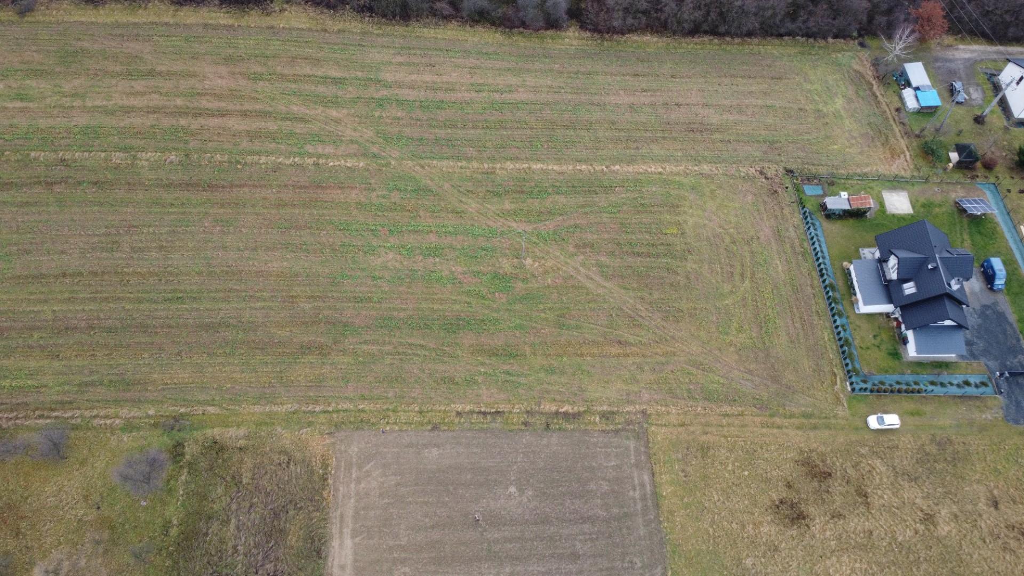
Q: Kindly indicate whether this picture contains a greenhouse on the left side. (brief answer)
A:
No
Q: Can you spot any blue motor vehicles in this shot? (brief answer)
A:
Yes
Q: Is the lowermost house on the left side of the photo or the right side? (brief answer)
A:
right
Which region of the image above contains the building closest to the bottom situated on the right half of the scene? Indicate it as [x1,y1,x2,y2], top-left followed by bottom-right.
[850,220,976,356]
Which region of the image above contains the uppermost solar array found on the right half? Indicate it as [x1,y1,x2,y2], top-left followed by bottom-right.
[956,198,997,220]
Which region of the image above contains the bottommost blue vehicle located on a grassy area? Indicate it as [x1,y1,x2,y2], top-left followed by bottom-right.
[982,257,1009,293]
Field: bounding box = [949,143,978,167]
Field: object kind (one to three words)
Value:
building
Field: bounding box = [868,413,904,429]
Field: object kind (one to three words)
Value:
car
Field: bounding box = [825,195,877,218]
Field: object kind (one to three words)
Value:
shed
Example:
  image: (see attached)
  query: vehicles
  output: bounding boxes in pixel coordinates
[948,81,967,105]
[982,257,1009,293]
[868,413,904,429]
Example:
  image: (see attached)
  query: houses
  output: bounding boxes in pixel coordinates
[1000,59,1024,117]
[850,220,976,356]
